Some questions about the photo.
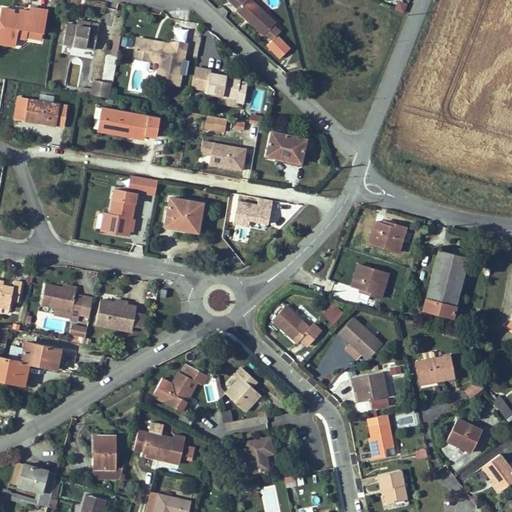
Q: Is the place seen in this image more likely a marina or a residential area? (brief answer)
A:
residential area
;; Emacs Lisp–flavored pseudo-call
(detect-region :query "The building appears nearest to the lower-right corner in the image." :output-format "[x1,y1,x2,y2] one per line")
[481,456,512,494]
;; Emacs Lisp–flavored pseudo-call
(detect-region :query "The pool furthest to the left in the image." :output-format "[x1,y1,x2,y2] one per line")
[36,311,72,334]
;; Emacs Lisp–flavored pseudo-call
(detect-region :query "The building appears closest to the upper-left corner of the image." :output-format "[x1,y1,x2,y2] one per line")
[0,6,46,48]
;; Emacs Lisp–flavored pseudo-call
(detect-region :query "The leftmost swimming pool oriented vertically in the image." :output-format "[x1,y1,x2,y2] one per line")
[66,57,83,89]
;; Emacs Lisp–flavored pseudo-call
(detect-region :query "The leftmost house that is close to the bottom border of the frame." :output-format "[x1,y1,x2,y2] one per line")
[9,463,51,510]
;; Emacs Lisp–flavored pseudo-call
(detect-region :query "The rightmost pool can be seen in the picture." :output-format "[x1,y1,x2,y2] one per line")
[395,412,418,428]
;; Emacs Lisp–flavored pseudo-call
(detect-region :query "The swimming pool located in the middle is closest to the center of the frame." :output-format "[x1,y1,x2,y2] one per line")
[233,227,250,244]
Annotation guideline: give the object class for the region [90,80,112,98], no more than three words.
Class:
building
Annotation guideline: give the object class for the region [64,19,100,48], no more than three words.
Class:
house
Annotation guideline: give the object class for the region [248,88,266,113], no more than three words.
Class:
swimming pool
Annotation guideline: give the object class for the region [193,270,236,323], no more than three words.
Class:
roundabout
